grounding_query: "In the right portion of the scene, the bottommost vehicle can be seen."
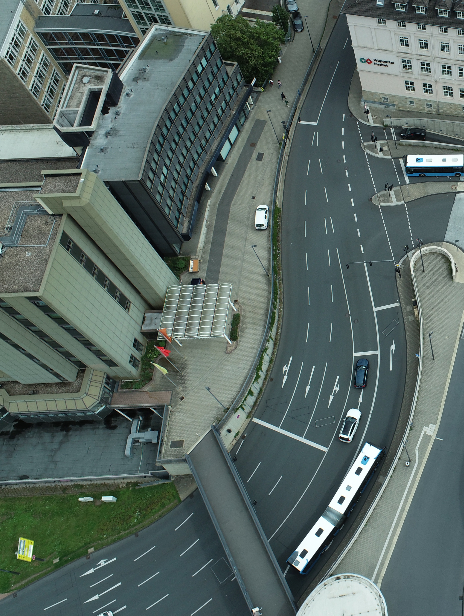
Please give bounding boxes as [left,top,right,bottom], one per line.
[288,441,383,578]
